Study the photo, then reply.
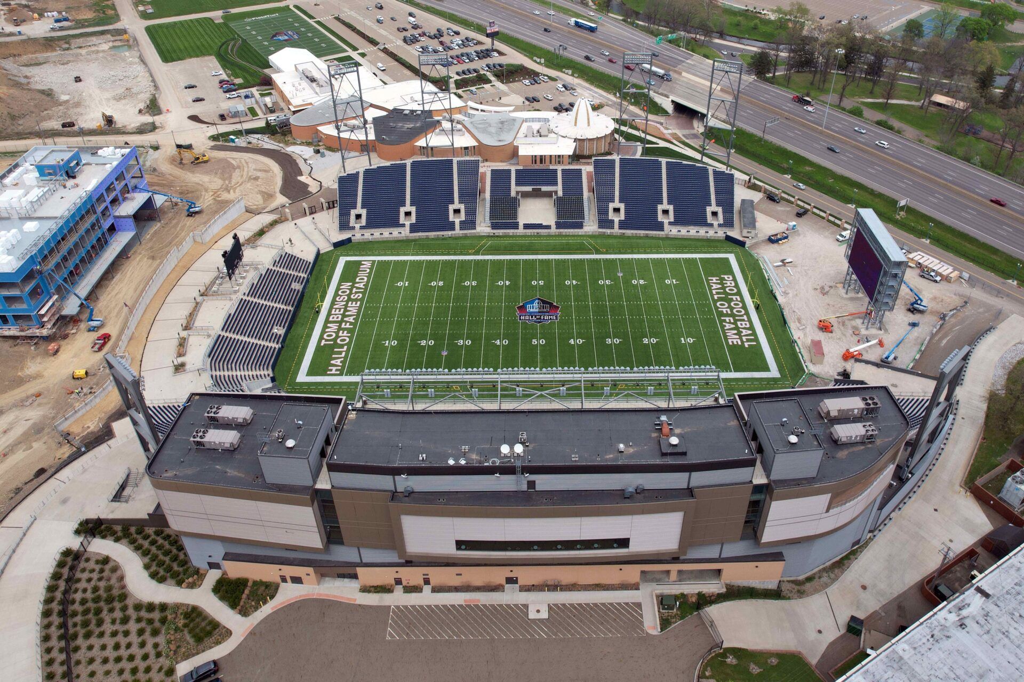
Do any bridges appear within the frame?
Yes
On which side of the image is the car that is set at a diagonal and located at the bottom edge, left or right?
left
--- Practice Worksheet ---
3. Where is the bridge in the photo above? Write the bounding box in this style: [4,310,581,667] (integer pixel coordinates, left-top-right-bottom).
[650,90,732,128]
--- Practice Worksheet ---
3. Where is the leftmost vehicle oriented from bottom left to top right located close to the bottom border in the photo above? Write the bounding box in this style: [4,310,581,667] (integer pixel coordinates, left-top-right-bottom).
[183,657,216,682]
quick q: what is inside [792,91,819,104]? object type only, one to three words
vehicle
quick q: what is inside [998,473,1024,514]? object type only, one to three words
cooling tower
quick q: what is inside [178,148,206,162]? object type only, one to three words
work vehicle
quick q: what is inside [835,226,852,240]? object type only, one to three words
vehicle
